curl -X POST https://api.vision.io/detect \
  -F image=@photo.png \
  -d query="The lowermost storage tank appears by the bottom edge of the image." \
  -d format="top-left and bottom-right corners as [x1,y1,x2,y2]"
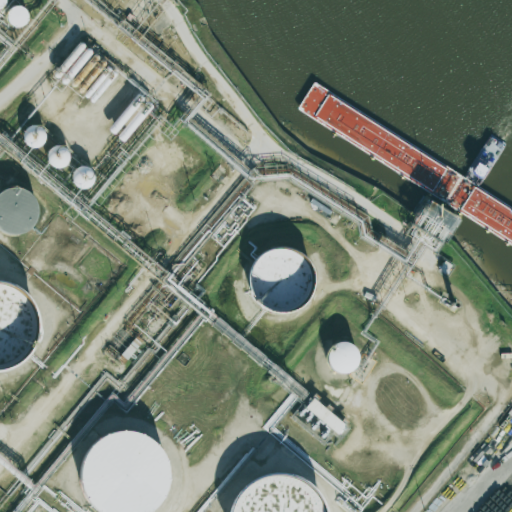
[232,469,328,512]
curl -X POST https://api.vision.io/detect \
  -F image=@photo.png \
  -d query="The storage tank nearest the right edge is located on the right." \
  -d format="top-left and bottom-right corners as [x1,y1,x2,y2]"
[326,338,361,376]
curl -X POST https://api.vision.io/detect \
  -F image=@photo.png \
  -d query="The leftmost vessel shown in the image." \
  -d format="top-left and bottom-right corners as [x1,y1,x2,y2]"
[300,86,461,200]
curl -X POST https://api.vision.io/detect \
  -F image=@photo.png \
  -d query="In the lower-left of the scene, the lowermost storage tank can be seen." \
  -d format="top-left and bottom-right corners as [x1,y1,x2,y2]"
[81,426,174,512]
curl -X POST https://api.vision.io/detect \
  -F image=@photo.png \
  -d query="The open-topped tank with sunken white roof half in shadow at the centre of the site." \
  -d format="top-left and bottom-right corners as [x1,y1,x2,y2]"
[248,246,316,314]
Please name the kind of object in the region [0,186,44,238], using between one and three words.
storage tank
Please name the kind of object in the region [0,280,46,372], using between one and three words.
storage tank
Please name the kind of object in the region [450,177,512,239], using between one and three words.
ship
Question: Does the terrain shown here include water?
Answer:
Yes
